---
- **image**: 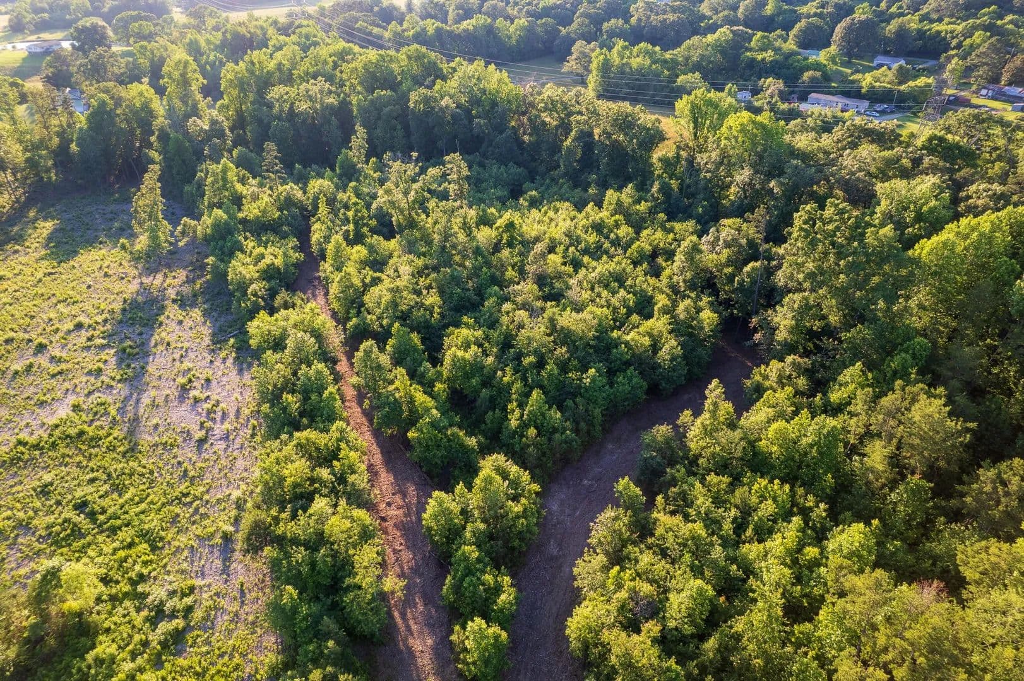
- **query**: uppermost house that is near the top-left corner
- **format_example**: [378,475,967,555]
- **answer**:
[24,35,61,51]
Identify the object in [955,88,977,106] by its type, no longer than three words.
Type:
barn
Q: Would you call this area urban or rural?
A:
rural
